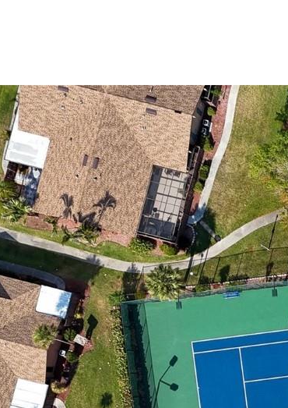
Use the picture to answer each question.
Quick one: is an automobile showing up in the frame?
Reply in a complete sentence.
No, there is no automobile in the image.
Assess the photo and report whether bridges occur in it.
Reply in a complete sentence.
No, there isn't any bridge down there.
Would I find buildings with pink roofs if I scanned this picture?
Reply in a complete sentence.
No, I find no building with a pink roof anywhere in the image.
